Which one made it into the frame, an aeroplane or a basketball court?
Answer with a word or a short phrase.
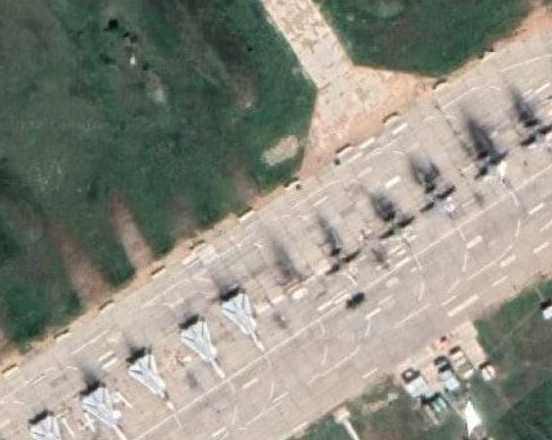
aeroplane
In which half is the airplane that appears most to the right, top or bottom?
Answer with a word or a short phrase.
top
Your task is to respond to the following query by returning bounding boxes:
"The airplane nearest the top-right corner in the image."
[520,122,552,160]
